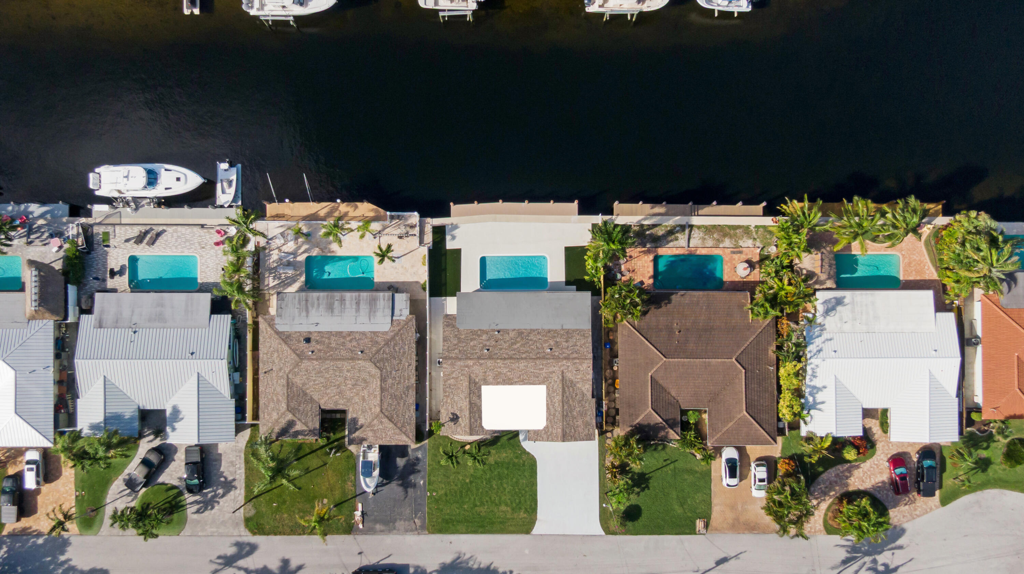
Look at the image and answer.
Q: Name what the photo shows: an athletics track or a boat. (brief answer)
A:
boat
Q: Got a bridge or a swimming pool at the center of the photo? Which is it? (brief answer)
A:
swimming pool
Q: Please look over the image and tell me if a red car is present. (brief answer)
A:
Yes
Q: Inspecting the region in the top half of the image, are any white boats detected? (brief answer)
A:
Yes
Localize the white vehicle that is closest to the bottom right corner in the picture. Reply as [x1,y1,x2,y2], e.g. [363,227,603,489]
[749,460,769,498]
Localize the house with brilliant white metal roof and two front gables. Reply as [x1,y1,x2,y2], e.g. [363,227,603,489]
[796,290,962,443]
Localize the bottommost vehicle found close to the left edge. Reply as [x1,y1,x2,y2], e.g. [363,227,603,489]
[0,473,23,524]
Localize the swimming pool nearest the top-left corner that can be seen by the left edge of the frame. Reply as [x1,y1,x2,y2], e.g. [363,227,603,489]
[0,253,24,292]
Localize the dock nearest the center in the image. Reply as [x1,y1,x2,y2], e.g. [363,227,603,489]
[451,200,578,215]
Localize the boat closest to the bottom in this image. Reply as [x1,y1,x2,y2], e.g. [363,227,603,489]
[360,445,379,492]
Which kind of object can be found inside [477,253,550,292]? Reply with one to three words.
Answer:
swimming pool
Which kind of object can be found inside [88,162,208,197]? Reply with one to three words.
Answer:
boat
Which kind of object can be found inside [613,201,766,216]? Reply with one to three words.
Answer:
pier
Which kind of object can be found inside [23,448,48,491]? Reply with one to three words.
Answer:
car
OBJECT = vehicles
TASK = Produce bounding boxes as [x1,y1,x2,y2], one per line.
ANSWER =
[183,445,206,494]
[886,455,911,496]
[352,568,398,574]
[913,448,937,498]
[0,473,23,524]
[23,448,48,491]
[749,460,769,498]
[124,444,165,494]
[719,446,741,489]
